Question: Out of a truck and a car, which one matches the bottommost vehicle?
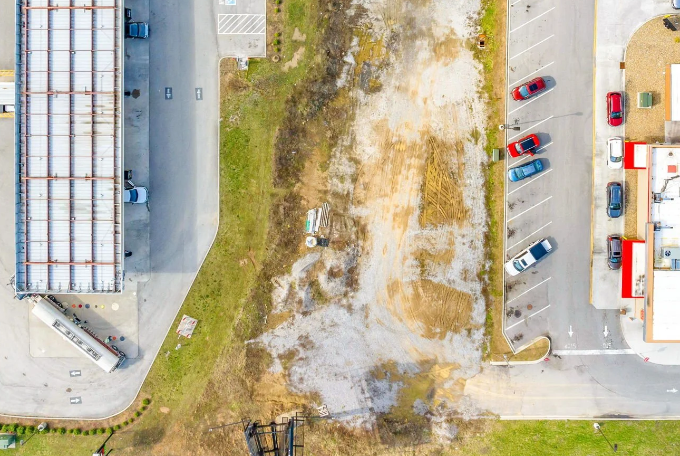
truck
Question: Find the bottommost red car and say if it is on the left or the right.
right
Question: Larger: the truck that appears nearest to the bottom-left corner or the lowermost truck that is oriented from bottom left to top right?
the truck that appears nearest to the bottom-left corner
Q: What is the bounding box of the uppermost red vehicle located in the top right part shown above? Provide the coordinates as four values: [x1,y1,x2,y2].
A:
[510,76,547,102]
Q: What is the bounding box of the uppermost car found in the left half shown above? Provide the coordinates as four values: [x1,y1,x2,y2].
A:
[125,20,150,38]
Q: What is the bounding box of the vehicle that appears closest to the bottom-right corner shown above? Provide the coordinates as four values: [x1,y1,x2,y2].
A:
[606,234,623,270]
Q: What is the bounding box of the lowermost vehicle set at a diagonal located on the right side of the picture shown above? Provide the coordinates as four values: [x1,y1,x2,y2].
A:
[506,239,555,274]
